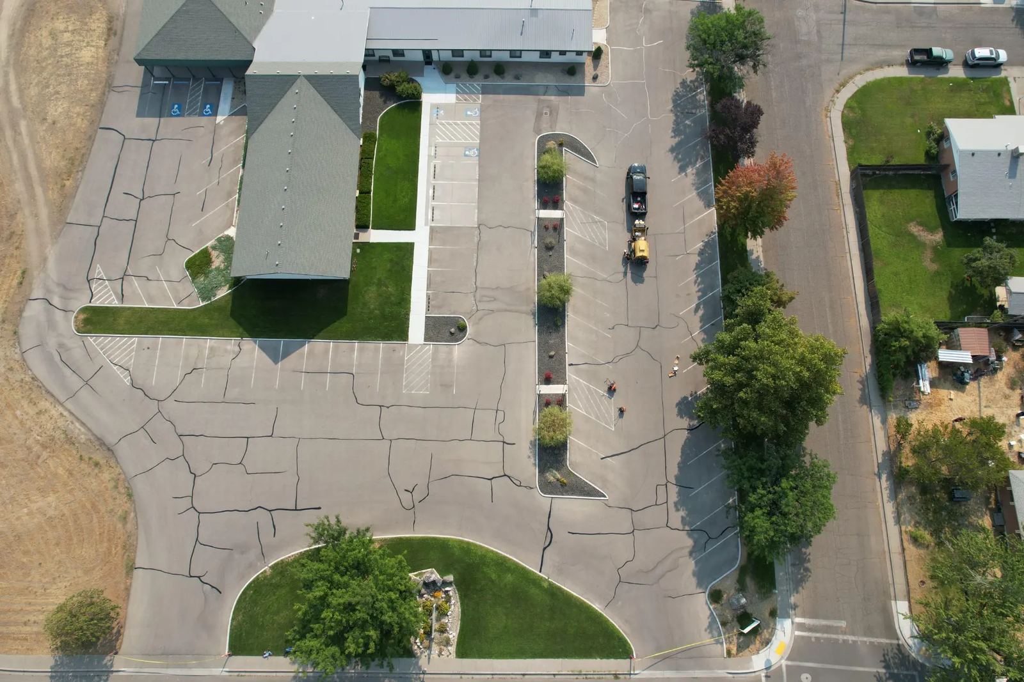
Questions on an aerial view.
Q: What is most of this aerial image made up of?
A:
paved ground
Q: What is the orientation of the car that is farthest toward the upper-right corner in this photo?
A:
horizontally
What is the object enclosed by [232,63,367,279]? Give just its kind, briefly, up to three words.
building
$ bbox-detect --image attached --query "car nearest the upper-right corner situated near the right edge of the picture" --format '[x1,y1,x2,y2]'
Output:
[963,47,1006,67]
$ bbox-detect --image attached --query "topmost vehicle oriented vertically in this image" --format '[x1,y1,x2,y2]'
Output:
[628,166,649,217]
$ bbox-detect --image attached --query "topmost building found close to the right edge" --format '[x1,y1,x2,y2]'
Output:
[938,115,1024,222]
